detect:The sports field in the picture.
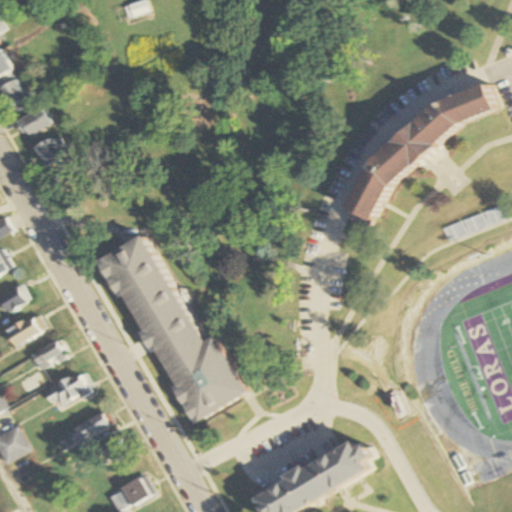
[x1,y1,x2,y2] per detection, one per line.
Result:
[440,278,512,440]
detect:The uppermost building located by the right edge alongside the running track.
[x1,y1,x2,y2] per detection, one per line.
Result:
[344,83,498,224]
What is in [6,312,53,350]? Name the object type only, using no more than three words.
house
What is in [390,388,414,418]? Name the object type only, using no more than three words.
building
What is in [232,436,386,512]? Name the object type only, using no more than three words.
building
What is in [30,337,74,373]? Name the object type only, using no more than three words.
house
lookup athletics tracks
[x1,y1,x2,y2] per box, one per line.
[414,253,512,481]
